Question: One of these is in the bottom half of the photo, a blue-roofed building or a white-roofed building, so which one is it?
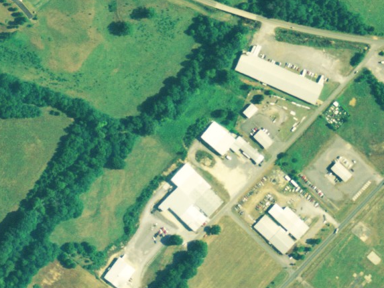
white-roofed building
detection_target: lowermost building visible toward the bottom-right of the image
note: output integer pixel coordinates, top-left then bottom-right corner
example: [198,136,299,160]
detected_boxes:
[253,204,309,255]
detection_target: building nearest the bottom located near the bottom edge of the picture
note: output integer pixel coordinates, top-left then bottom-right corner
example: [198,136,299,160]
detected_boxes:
[103,255,135,288]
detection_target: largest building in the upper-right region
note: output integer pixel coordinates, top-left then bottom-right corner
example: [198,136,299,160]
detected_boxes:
[235,45,324,104]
